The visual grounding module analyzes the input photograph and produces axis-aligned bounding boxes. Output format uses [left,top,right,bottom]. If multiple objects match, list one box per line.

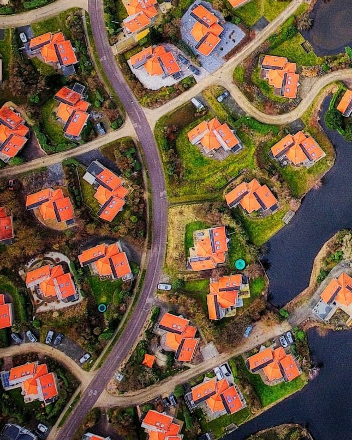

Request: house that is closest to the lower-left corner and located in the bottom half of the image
[2,411,41,440]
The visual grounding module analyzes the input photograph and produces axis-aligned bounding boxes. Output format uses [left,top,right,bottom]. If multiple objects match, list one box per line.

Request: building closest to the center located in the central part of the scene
[189,217,228,268]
